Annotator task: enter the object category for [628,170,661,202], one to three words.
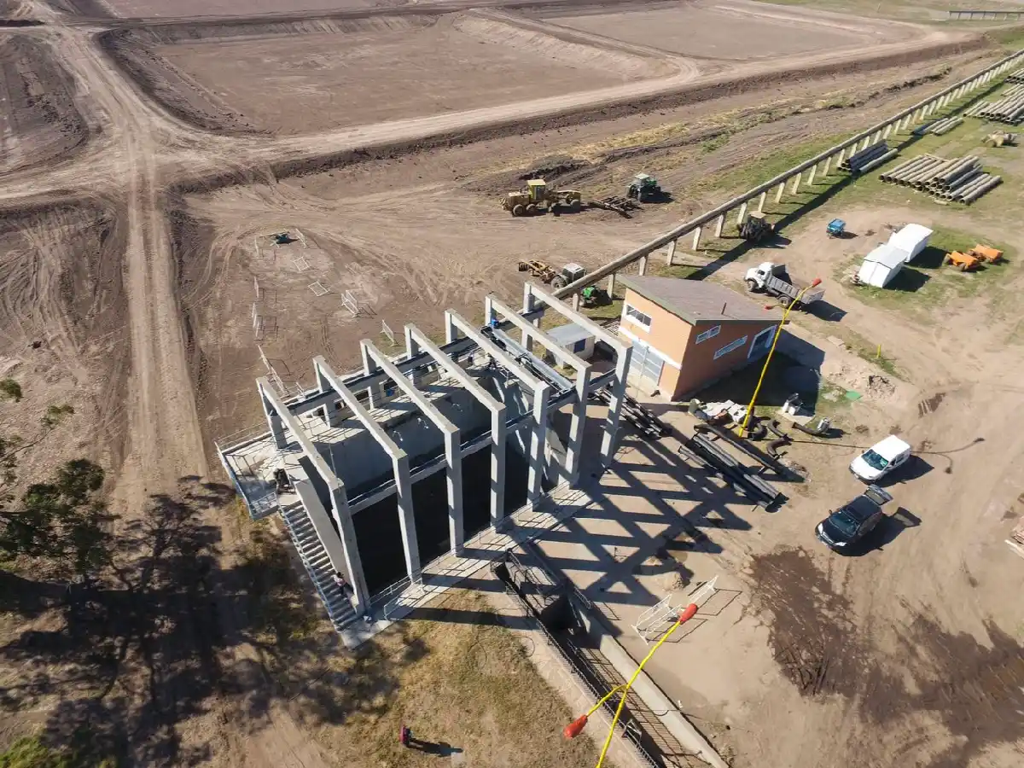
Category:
work vehicle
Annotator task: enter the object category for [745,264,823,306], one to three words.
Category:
truck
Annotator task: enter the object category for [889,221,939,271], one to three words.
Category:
shed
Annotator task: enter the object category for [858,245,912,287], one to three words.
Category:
shed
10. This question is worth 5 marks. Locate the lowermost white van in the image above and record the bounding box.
[849,430,916,481]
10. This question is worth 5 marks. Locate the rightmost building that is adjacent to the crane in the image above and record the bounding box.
[614,275,785,402]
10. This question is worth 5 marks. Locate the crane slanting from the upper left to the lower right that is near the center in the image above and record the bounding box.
[470,315,585,404]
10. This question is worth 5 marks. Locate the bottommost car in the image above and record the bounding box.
[816,475,898,550]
